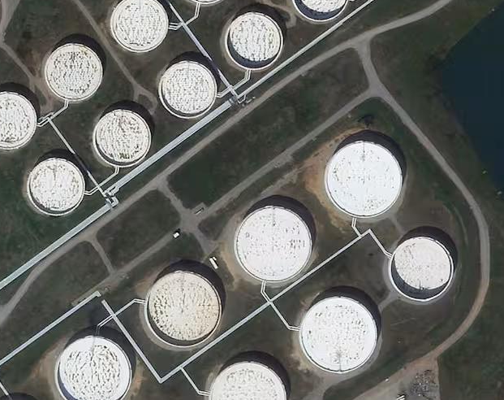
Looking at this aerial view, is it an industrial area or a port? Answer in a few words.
industrial area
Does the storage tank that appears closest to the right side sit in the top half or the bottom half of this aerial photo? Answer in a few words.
bottom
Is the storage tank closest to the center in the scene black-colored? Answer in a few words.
No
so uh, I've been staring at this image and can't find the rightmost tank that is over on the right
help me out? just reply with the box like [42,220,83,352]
[389,236,454,301]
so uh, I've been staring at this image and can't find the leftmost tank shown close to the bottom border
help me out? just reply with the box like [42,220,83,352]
[56,334,132,400]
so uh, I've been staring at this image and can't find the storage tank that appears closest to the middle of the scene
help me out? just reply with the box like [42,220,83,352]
[234,204,312,282]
